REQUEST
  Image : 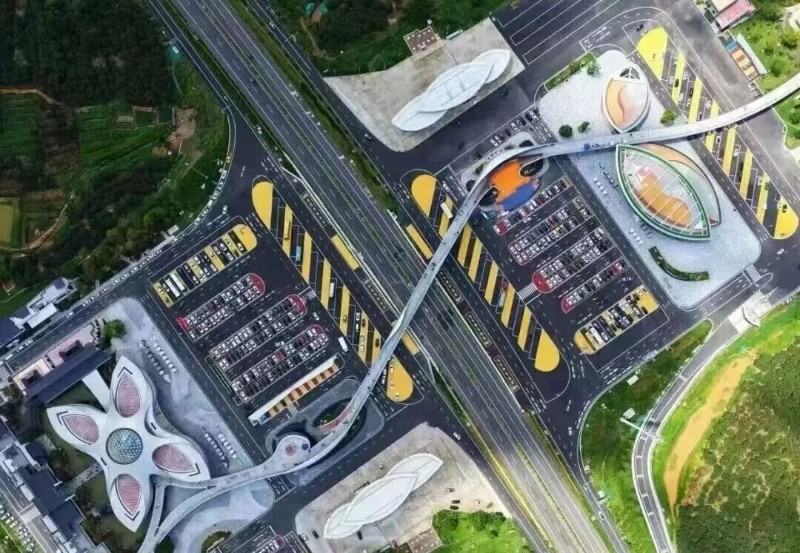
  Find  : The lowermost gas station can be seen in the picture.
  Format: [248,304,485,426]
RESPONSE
[292,423,511,553]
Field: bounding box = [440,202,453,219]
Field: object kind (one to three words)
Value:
vehicle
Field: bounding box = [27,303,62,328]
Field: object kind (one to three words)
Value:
house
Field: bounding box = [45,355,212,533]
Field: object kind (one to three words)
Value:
building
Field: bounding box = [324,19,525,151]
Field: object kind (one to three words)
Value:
gas station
